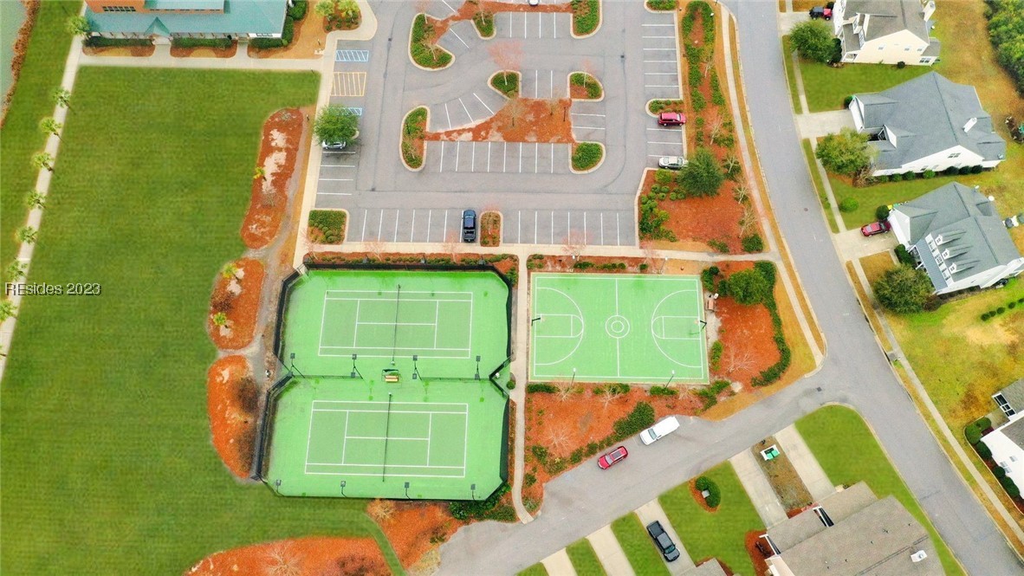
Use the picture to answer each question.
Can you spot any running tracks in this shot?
No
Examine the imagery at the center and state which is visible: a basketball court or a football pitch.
basketball court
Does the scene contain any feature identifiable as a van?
Yes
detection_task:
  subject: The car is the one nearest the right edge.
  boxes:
[859,219,890,236]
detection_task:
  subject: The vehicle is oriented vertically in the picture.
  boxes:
[462,211,477,242]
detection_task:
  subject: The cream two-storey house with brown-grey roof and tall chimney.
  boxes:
[833,0,940,66]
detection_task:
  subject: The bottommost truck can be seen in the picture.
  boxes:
[647,520,680,563]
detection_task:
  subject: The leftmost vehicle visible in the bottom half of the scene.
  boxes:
[597,444,630,470]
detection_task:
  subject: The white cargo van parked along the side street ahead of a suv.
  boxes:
[641,417,681,447]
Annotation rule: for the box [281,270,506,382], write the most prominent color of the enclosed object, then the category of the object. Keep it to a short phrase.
green tennis court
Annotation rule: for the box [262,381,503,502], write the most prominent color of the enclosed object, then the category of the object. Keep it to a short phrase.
green tennis court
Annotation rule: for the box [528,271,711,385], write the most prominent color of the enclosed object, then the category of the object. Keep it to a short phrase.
green basketball court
